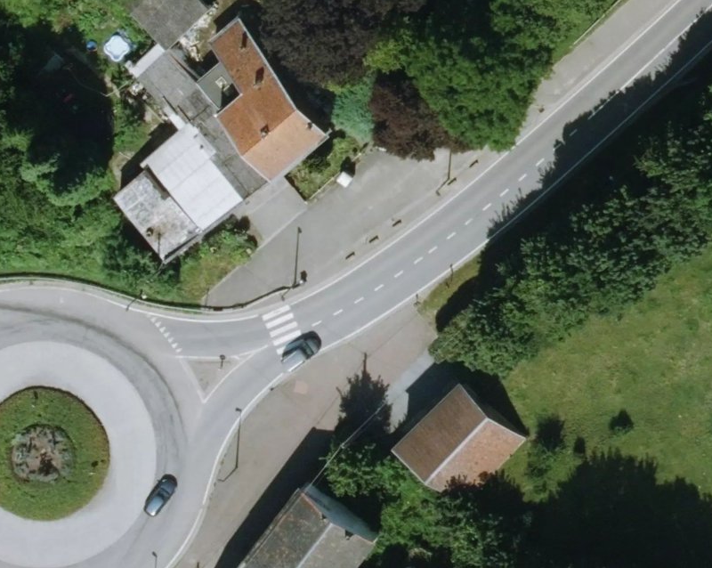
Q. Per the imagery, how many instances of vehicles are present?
2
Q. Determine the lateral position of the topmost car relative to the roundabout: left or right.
on its right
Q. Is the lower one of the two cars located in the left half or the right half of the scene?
left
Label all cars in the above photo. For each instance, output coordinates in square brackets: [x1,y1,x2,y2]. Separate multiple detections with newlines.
[144,474,178,517]
[279,330,325,367]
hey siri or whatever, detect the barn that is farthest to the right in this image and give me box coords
[391,378,526,501]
